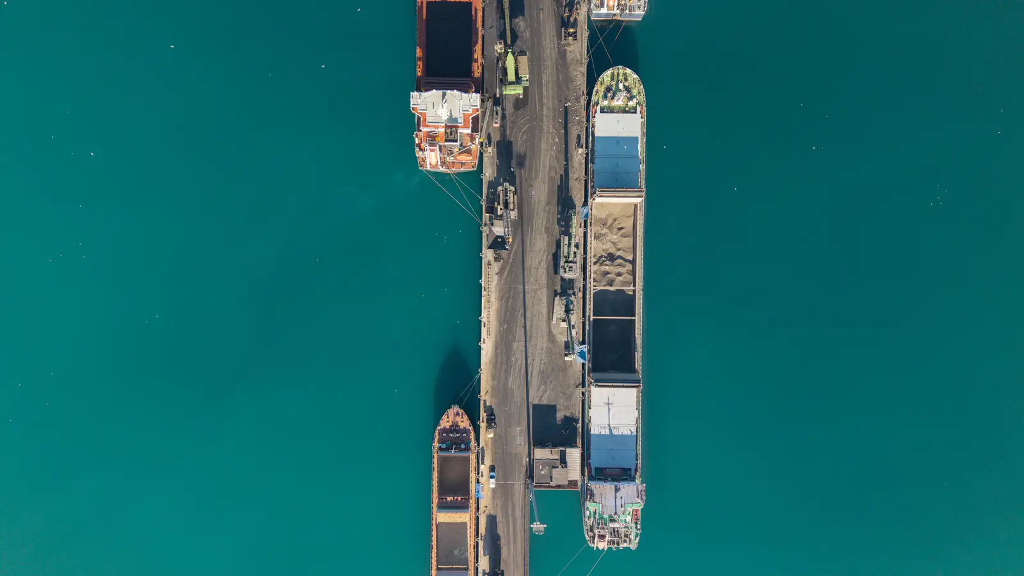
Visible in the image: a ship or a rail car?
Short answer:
ship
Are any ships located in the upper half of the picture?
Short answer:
Yes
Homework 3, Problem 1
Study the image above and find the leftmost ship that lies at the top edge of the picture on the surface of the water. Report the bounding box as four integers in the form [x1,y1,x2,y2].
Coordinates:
[411,0,482,174]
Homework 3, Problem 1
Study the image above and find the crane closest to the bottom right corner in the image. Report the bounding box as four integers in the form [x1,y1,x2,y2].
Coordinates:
[552,289,577,353]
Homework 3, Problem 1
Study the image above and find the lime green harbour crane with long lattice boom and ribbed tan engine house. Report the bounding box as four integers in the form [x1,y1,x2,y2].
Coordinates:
[495,0,529,98]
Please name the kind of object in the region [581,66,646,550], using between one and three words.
ship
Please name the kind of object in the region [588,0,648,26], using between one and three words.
ship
